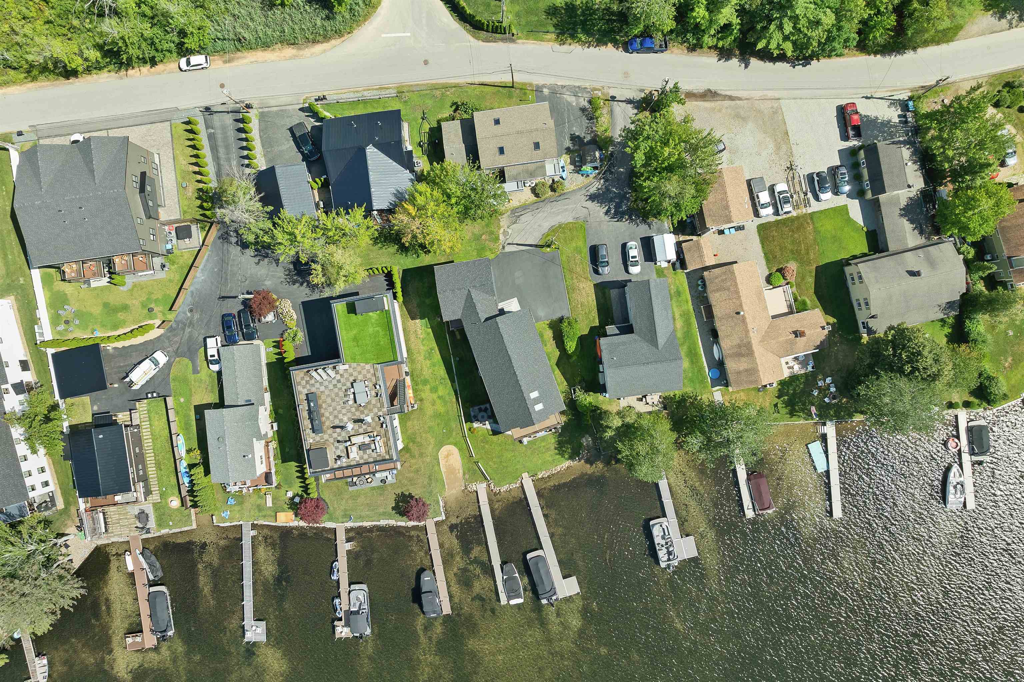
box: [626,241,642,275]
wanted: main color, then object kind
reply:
white car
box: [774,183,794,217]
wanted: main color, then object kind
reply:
white car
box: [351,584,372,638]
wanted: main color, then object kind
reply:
gray boat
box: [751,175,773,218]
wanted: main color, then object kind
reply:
white truck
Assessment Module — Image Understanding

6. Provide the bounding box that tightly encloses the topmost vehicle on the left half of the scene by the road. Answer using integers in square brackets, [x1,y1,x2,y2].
[178,53,212,72]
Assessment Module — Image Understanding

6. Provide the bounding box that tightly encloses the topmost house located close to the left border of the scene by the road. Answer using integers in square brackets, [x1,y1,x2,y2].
[13,131,166,281]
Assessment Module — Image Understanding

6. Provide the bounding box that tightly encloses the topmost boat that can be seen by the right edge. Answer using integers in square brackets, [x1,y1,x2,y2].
[967,420,991,464]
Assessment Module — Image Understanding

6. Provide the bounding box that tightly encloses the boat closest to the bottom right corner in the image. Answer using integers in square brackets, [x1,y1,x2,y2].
[946,463,967,511]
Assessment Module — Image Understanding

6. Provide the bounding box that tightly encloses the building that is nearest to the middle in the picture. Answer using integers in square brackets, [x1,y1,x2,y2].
[434,257,566,442]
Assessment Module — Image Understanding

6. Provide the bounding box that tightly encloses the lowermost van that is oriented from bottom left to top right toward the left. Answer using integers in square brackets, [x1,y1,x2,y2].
[118,349,171,390]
